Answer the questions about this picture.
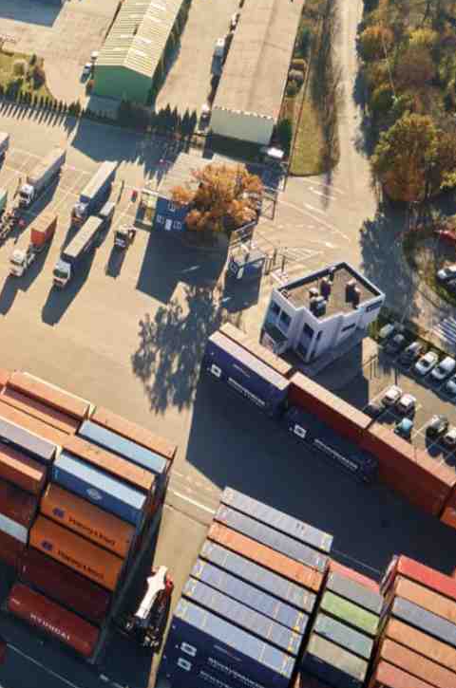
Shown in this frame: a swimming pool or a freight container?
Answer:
freight container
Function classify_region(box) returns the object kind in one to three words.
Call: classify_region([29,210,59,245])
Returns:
shipping container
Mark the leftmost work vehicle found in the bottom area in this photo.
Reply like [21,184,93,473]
[106,563,190,649]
